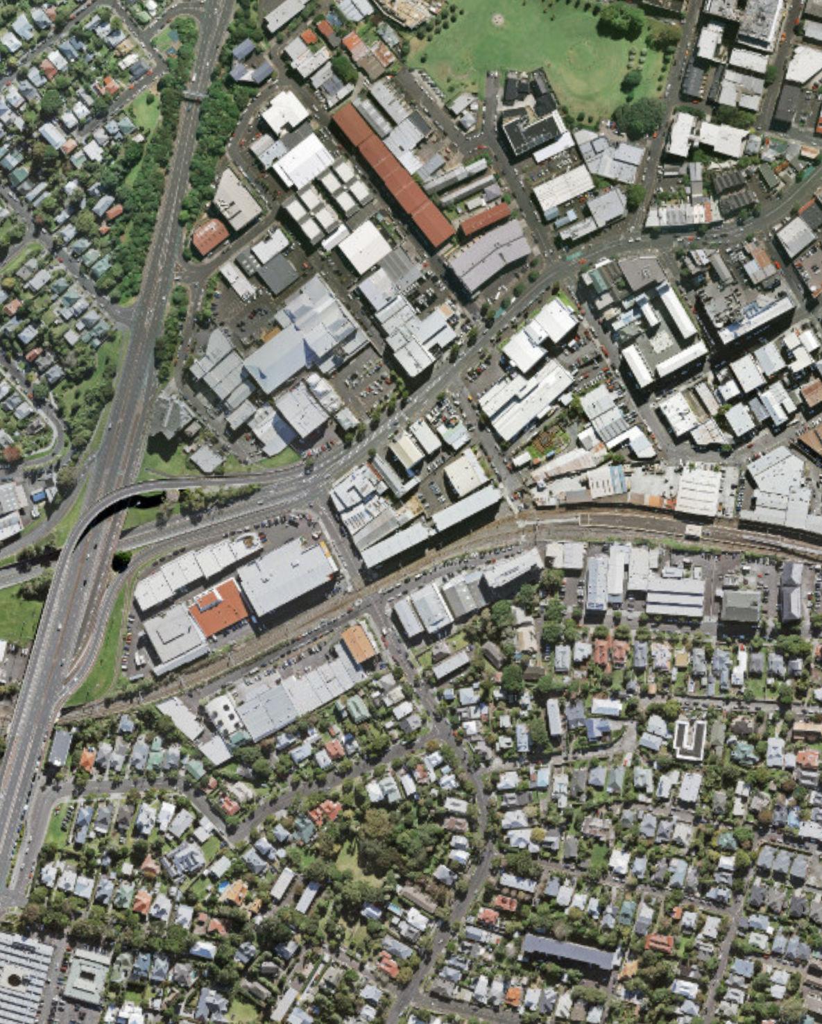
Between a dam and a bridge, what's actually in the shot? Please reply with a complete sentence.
There is a bridge in the scene.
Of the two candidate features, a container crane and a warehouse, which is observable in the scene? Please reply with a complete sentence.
There is a warehouse in the scene.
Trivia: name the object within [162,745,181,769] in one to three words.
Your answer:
house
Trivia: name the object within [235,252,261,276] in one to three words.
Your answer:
building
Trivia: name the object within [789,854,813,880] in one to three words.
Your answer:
house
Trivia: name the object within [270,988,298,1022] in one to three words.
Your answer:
building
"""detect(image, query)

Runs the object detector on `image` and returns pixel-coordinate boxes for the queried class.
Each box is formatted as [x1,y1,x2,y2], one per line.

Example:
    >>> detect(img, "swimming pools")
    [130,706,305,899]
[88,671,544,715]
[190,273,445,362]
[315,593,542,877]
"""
[216,880,229,892]
[387,903,402,915]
